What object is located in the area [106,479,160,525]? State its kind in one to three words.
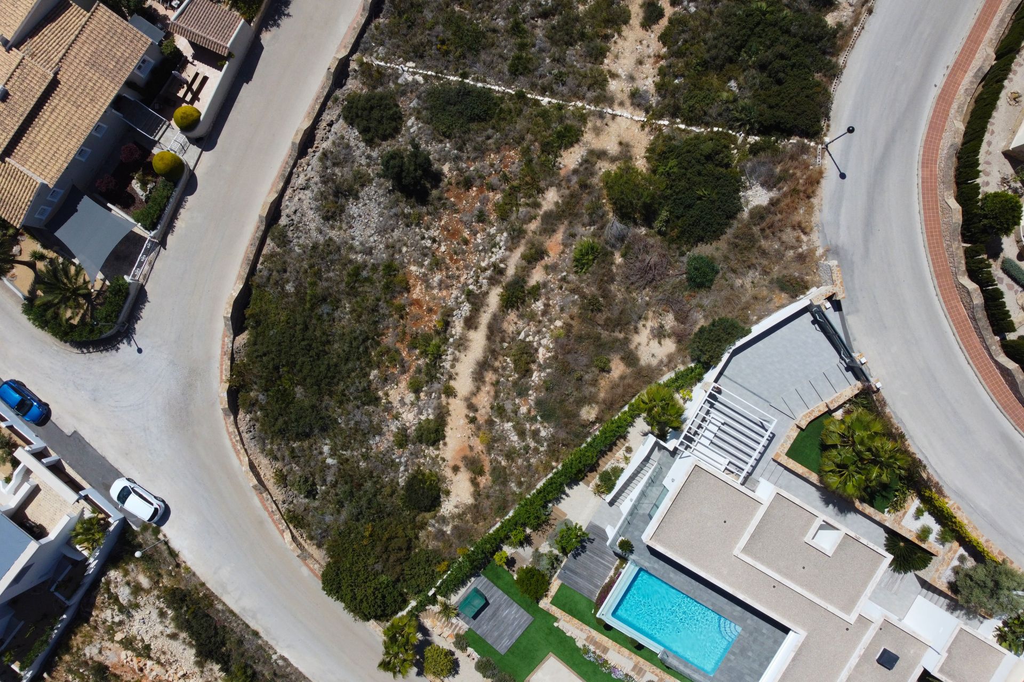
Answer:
car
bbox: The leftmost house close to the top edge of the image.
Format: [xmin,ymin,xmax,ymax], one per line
[0,0,170,231]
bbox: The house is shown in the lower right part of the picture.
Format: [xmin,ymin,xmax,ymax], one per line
[633,451,1024,682]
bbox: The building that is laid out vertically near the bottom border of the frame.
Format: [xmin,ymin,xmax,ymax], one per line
[0,447,96,650]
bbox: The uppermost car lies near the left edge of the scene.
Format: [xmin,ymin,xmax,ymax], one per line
[0,381,45,425]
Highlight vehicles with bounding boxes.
[106,479,160,525]
[0,381,45,425]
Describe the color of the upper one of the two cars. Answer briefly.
blue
